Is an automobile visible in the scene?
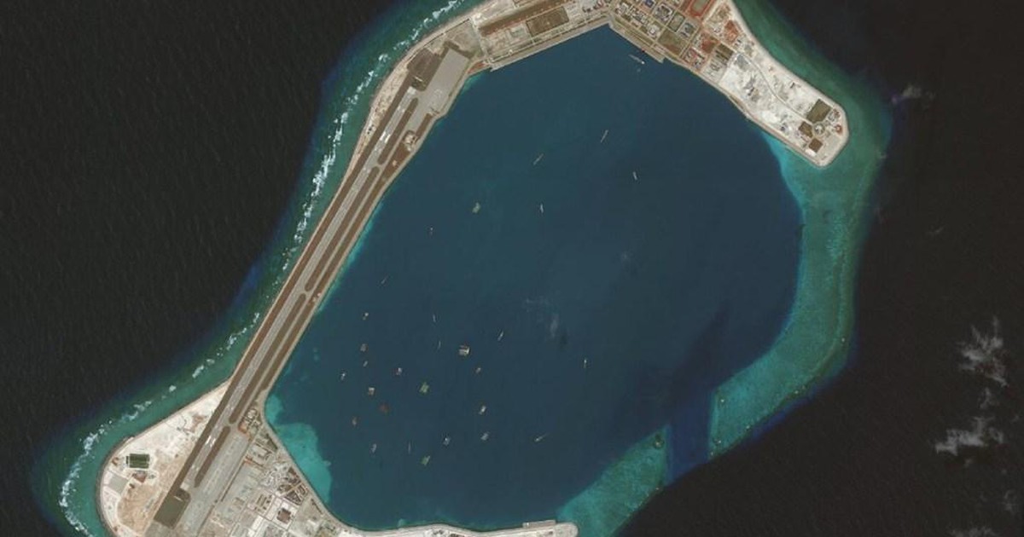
No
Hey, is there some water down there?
Yes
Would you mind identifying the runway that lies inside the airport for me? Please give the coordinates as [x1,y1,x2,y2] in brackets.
[179,84,418,492]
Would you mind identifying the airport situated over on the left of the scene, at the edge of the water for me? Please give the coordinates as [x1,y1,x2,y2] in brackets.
[154,43,471,537]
